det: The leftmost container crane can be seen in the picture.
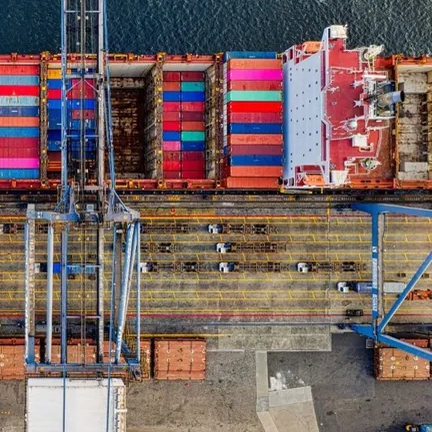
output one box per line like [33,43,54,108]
[16,0,152,432]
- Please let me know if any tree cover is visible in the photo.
No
